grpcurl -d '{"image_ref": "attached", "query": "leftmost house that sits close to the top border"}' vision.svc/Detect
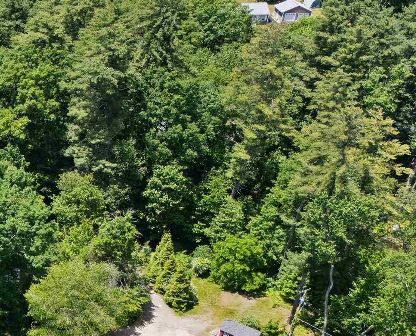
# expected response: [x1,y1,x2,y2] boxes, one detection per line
[216,1,270,23]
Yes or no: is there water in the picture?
No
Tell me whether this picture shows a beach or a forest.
forest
